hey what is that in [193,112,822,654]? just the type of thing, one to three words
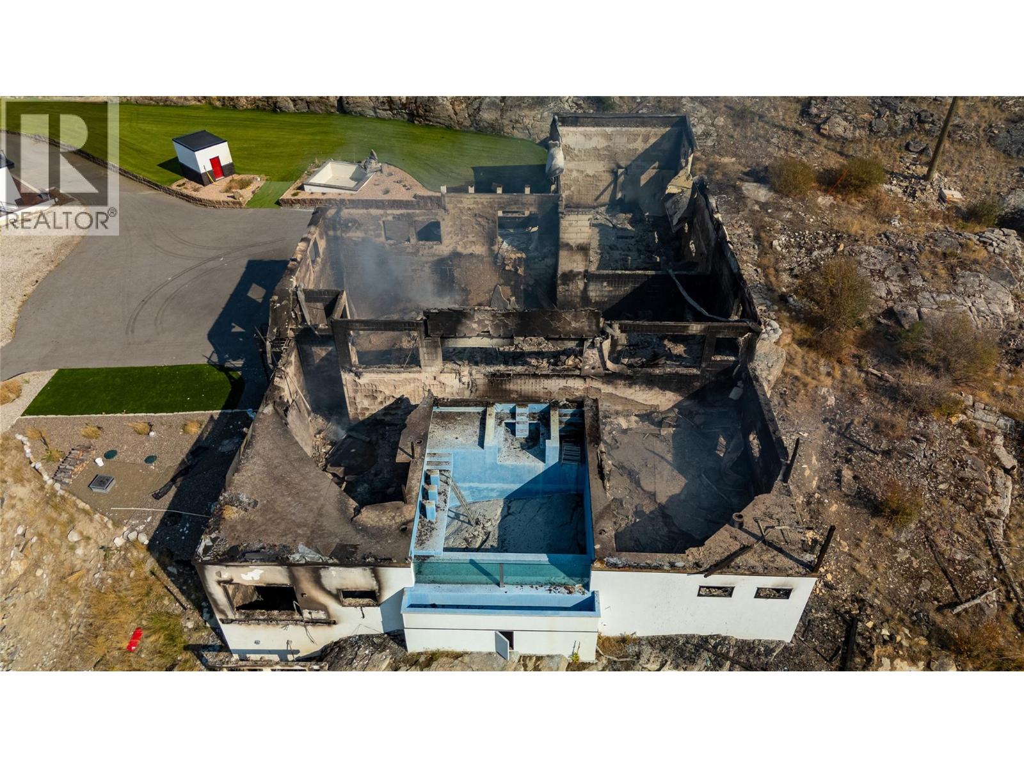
house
